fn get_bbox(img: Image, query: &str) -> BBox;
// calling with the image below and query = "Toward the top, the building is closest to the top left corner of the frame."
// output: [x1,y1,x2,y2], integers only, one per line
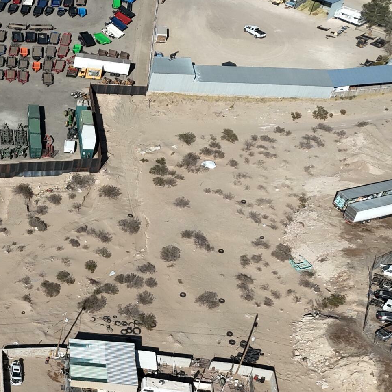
[148,56,199,97]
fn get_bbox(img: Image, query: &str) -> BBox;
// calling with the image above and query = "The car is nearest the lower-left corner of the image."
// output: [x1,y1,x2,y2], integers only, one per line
[10,362,24,386]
